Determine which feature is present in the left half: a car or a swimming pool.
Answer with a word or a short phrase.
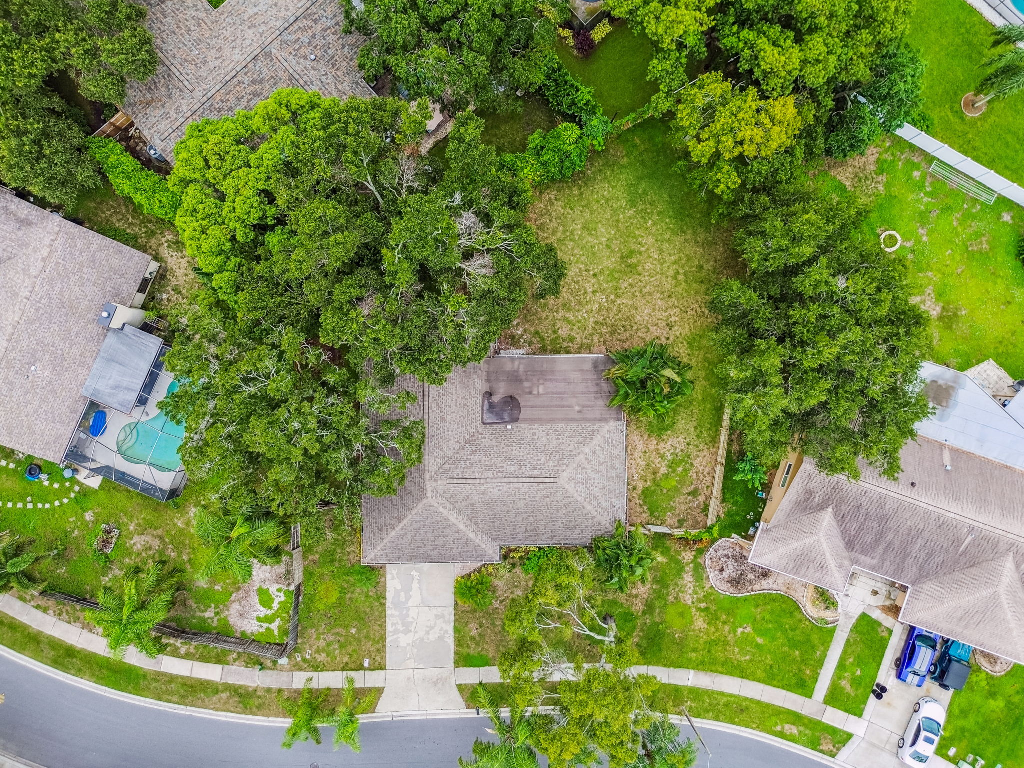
swimming pool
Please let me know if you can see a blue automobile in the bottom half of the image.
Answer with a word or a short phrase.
Yes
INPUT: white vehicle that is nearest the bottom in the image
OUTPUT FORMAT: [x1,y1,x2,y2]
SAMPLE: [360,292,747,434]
[901,699,950,768]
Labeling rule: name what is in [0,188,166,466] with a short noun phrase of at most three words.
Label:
house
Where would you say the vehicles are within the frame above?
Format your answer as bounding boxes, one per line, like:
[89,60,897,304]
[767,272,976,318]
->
[932,637,978,696]
[901,699,950,768]
[898,625,944,691]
